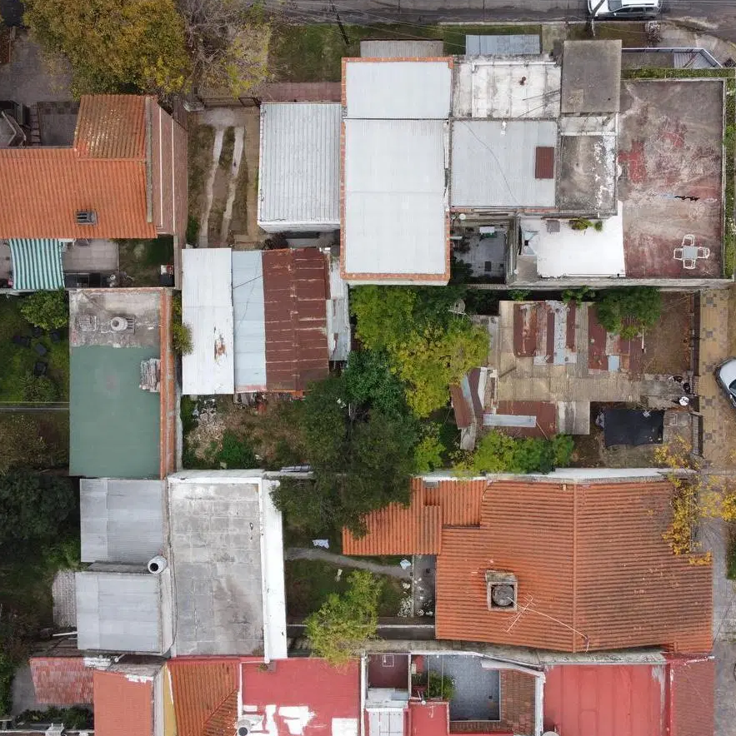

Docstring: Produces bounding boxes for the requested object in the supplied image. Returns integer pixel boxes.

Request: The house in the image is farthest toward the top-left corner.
[0,94,187,252]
